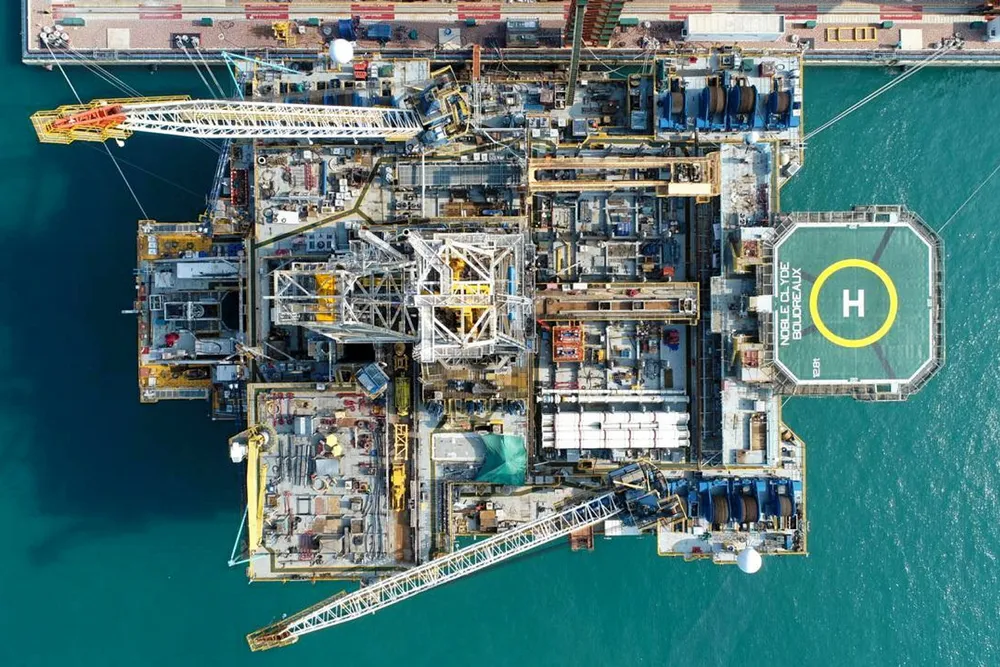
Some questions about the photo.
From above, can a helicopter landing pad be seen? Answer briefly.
Yes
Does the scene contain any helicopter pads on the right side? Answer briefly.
Yes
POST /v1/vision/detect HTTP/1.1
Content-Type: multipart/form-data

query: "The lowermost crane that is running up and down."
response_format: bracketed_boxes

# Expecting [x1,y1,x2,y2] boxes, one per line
[226,424,278,553]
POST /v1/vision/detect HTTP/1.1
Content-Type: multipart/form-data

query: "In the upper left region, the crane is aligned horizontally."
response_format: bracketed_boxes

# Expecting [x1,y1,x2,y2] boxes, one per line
[35,60,477,147]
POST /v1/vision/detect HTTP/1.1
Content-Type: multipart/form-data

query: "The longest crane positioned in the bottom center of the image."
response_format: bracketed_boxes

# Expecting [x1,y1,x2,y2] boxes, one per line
[249,448,689,655]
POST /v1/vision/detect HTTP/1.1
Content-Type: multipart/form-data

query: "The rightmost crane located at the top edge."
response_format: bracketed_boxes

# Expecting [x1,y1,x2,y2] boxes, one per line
[556,0,650,107]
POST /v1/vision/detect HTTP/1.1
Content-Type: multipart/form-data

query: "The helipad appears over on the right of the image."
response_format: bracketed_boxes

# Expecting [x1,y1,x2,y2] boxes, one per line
[749,204,944,403]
